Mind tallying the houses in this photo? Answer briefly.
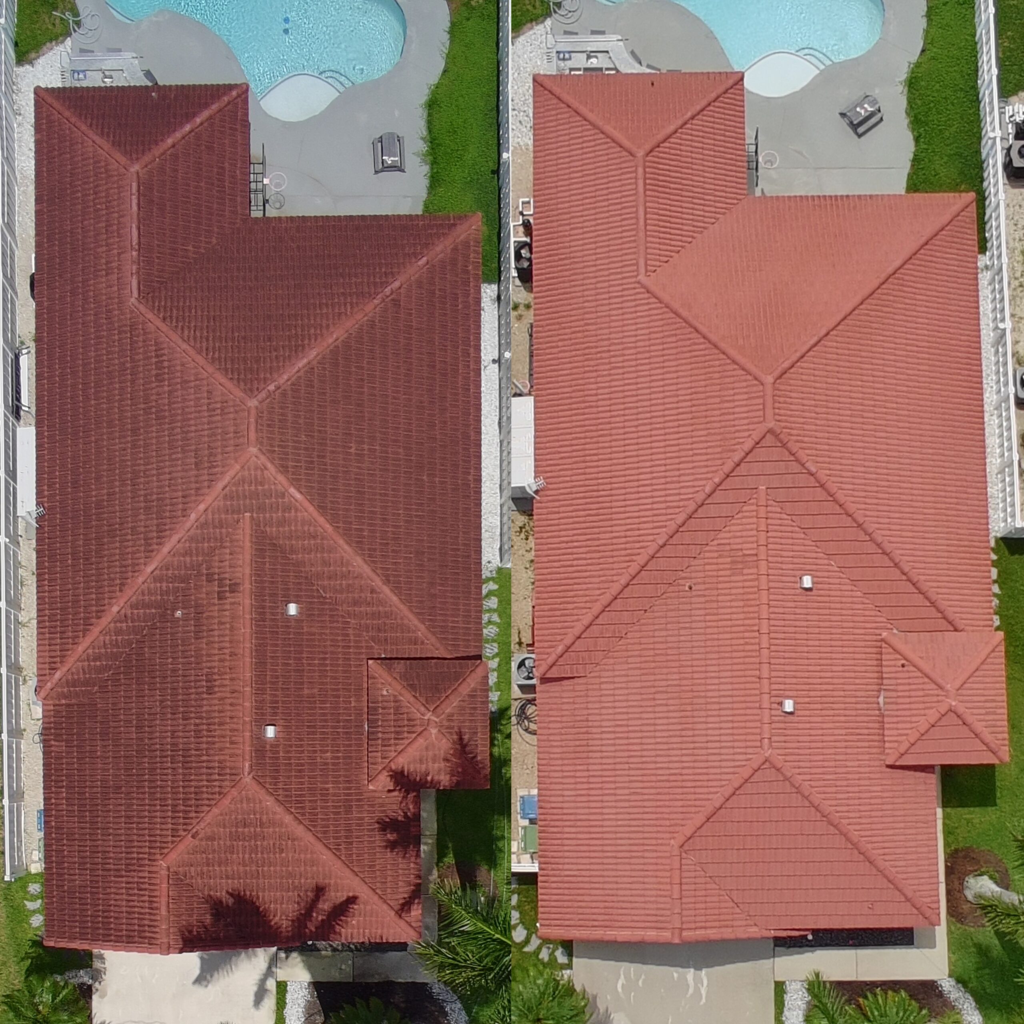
2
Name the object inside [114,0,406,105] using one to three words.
swimming pool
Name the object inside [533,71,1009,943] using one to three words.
house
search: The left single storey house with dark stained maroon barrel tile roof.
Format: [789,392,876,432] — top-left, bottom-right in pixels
[34,82,491,953]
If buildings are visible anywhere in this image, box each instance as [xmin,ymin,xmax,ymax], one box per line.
[34,82,491,953]
[533,71,1009,943]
